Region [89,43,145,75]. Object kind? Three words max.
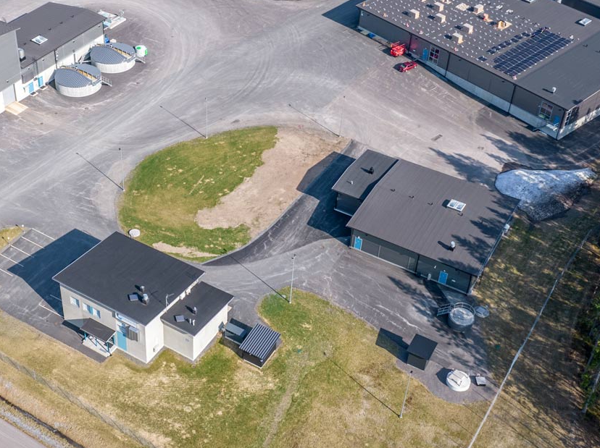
storage tank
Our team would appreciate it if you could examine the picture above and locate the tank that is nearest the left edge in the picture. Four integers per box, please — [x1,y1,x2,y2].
[52,64,109,99]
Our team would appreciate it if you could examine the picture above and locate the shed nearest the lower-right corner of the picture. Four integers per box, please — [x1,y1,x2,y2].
[406,335,437,372]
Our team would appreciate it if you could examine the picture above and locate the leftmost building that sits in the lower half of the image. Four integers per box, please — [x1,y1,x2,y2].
[51,232,232,364]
